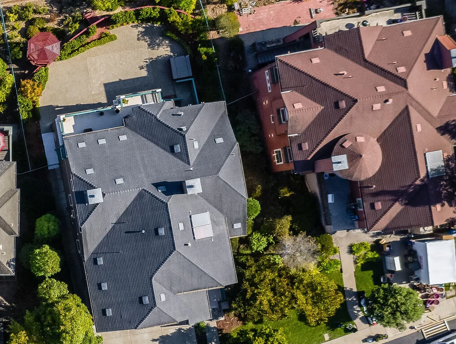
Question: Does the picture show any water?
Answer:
No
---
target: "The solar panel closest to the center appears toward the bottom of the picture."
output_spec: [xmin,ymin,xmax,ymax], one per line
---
[191,213,215,239]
